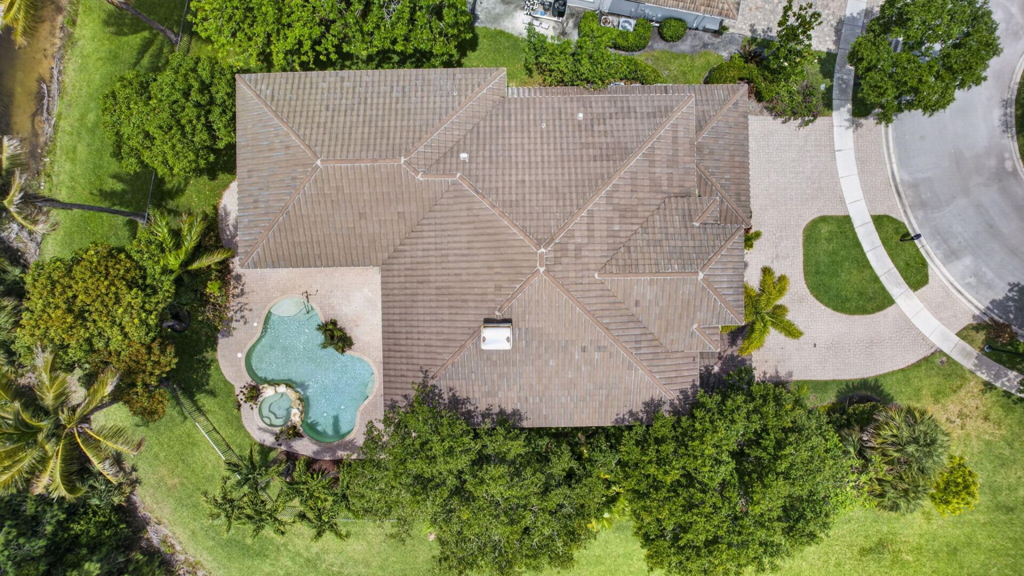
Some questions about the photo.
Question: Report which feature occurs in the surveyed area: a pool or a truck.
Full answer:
The one in the frame is a pool.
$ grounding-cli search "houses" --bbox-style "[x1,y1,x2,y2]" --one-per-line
[233,66,756,431]
[566,0,747,36]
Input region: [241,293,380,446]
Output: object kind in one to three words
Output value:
swimming pool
